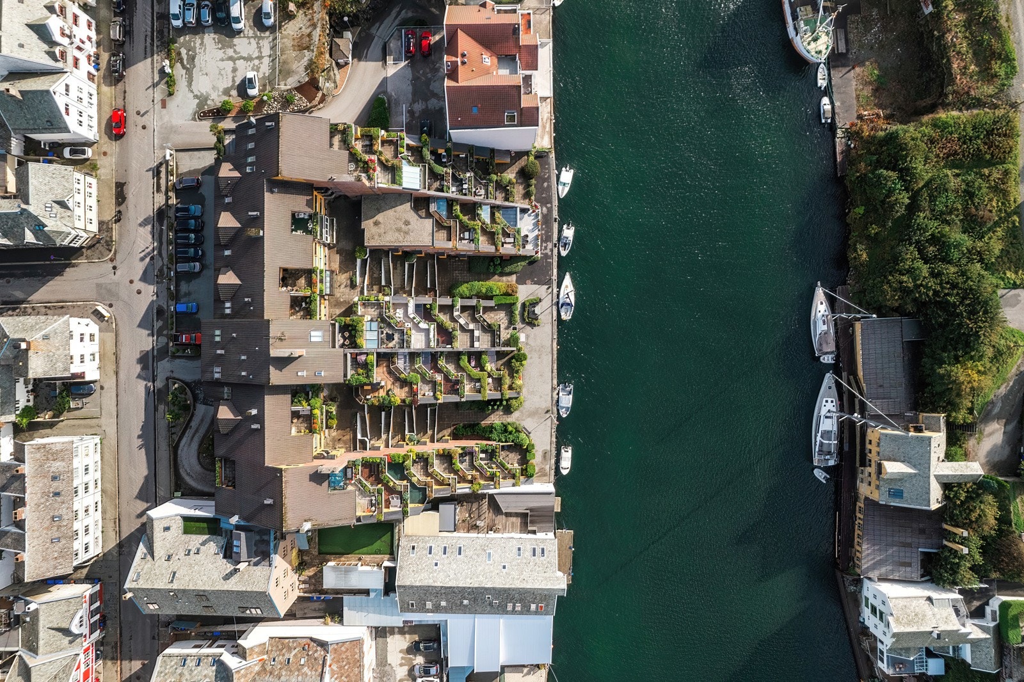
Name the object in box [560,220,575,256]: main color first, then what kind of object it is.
white boat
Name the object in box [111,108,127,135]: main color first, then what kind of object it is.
red car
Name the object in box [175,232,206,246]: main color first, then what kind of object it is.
black car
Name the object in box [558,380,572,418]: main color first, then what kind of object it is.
white boat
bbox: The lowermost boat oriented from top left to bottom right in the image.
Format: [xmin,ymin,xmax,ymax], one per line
[810,465,830,482]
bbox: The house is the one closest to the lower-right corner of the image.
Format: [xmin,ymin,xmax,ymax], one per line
[864,583,1001,674]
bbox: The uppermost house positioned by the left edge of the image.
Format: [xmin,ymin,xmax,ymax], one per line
[0,0,97,87]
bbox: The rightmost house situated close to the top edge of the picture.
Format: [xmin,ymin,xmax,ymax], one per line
[444,0,552,147]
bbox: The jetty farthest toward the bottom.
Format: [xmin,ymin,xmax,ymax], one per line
[555,530,573,583]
